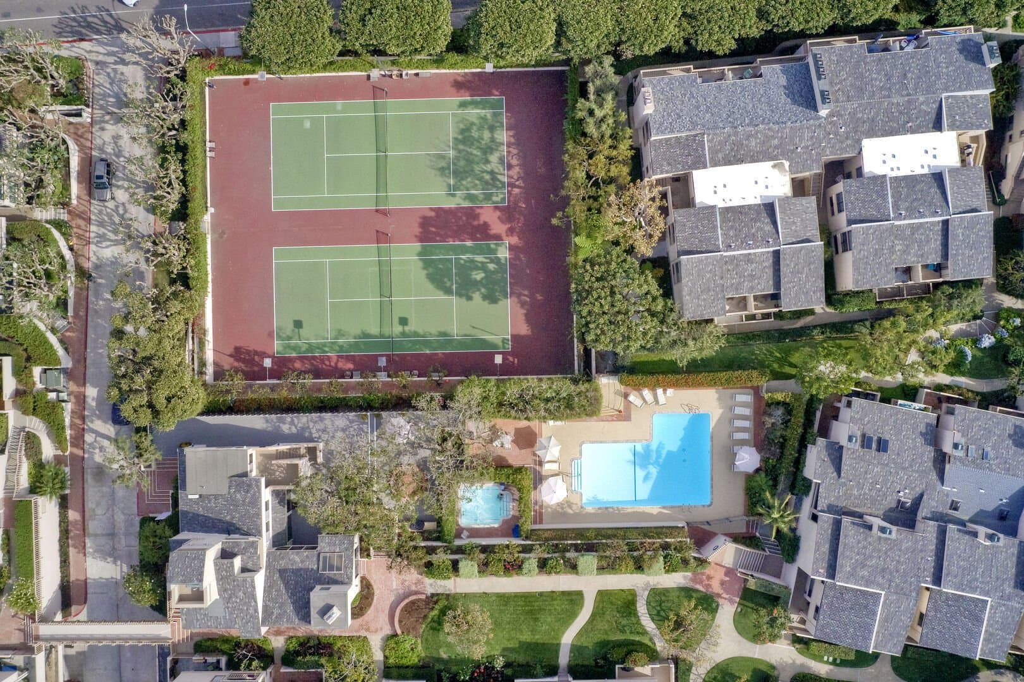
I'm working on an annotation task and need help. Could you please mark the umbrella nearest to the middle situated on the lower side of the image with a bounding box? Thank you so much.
[535,434,561,461]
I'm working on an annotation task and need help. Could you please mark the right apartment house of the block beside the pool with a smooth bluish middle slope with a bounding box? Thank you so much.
[908,388,1024,666]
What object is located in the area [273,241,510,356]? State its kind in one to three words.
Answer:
tennis court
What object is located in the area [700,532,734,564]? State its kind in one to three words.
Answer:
shed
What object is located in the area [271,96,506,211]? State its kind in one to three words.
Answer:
tennis court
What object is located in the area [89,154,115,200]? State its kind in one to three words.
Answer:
car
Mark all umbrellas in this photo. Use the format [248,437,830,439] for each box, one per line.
[535,434,561,461]
[733,445,761,473]
[540,476,568,504]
